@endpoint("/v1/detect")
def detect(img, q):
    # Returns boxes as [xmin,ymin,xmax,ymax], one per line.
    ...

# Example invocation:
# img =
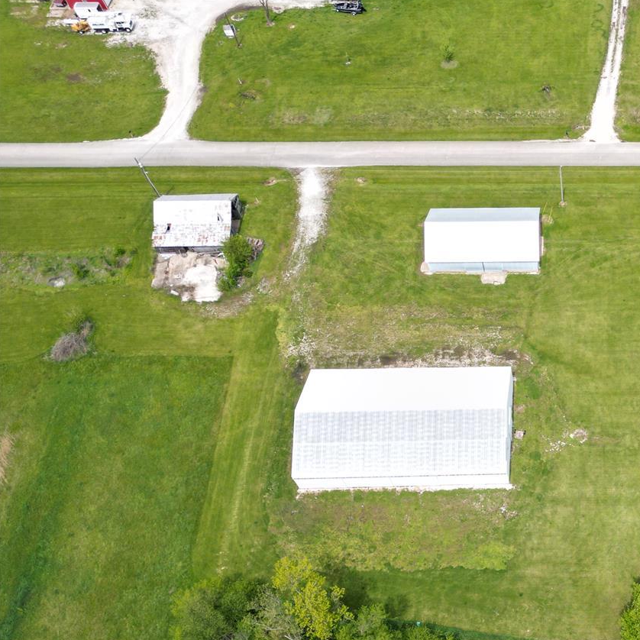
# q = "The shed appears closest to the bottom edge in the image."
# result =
[288,363,513,493]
